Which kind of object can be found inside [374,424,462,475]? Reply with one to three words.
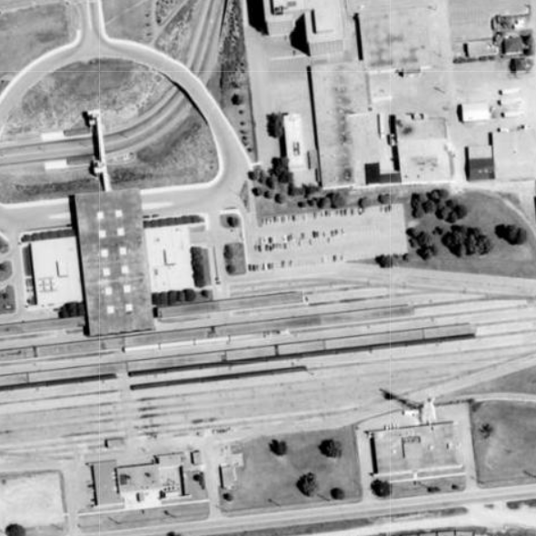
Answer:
building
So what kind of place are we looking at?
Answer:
rail yard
